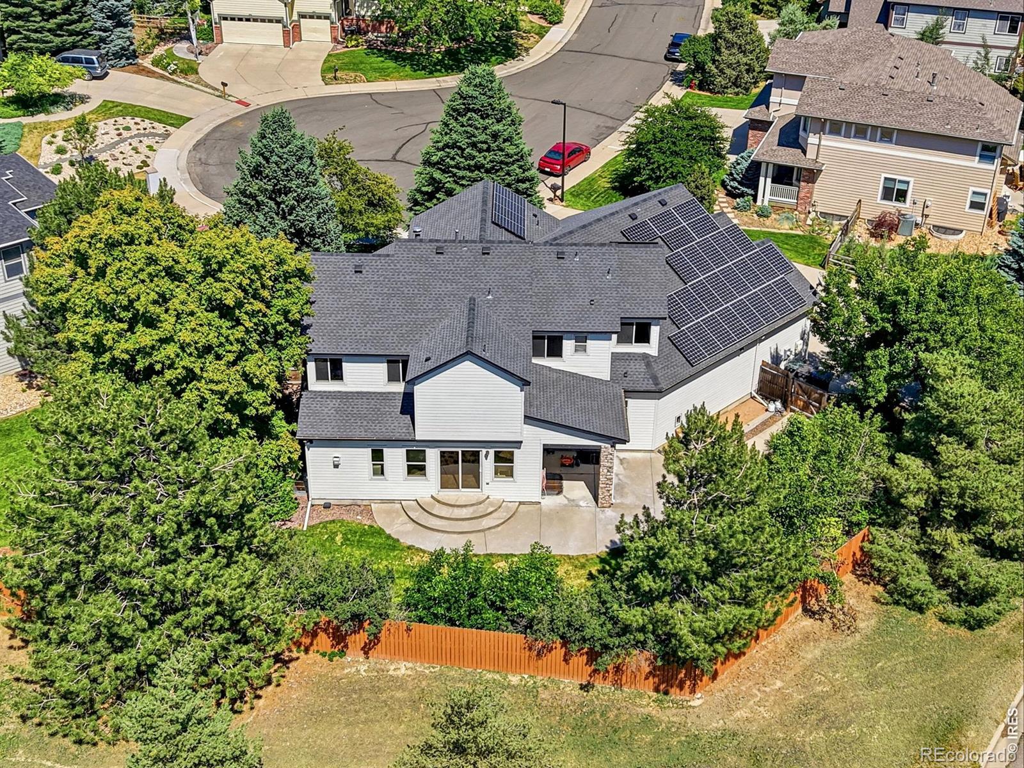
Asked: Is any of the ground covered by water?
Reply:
No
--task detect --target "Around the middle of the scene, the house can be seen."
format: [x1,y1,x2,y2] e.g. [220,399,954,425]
[294,180,825,542]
